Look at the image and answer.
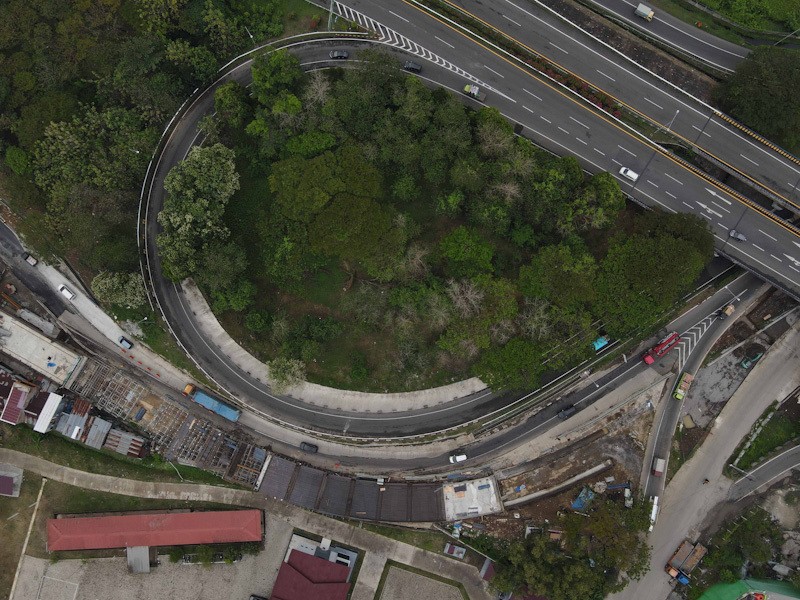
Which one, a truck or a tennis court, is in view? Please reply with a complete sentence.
Of the two, only a truck appears.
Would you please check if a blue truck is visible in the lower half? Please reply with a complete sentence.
Yes, there is a blue truck in the lower half.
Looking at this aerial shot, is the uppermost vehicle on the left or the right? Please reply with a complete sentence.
The uppermost vehicle is on the right side of the image.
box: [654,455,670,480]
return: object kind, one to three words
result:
vehicle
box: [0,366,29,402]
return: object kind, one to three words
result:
shed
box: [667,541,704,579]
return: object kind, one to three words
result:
truck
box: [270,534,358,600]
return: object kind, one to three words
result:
house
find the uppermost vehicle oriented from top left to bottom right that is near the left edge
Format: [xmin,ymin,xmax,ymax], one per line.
[18,249,38,267]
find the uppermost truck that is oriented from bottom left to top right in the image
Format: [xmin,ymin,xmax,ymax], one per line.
[715,301,741,323]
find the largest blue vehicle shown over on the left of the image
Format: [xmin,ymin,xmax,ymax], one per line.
[181,384,240,423]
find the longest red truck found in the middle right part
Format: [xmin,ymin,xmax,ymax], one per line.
[641,330,687,365]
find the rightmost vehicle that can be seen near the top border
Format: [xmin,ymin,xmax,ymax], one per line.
[632,0,659,20]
